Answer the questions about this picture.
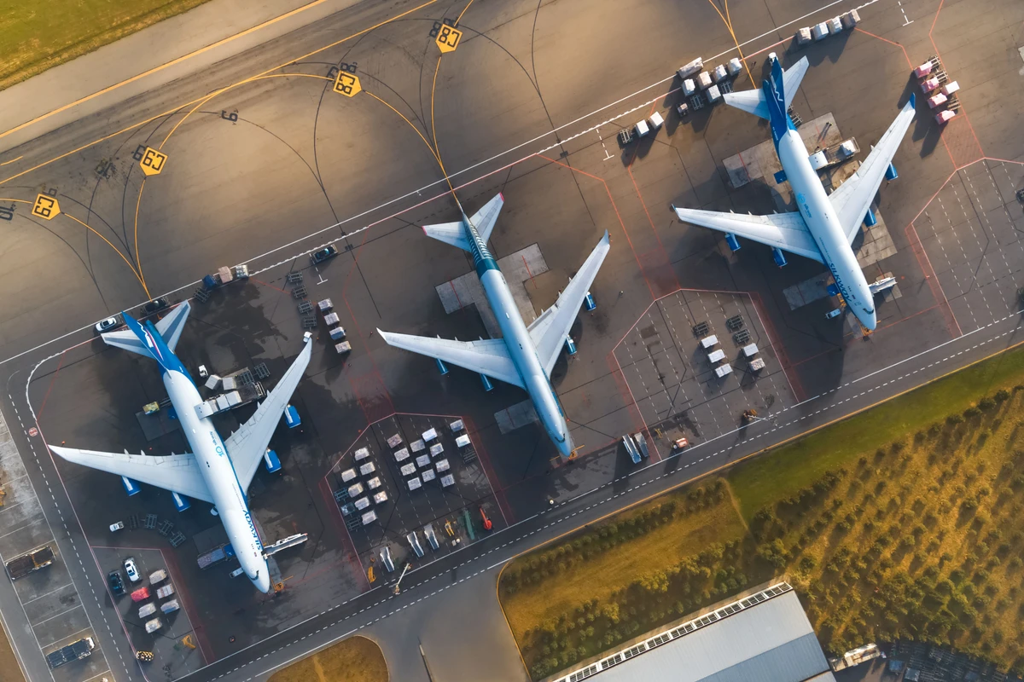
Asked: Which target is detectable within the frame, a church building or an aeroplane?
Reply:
aeroplane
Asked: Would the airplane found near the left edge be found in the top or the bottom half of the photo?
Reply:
bottom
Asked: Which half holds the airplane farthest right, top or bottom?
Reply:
top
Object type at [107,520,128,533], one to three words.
vehicle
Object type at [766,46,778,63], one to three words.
vehicle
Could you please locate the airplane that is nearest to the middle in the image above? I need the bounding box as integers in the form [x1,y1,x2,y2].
[376,193,611,457]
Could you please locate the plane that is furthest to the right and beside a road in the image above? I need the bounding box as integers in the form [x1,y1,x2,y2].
[668,57,914,329]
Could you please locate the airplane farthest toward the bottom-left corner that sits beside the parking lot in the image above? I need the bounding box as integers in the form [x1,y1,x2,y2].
[44,299,309,590]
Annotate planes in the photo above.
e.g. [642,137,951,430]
[376,193,611,457]
[44,299,309,590]
[668,57,914,329]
